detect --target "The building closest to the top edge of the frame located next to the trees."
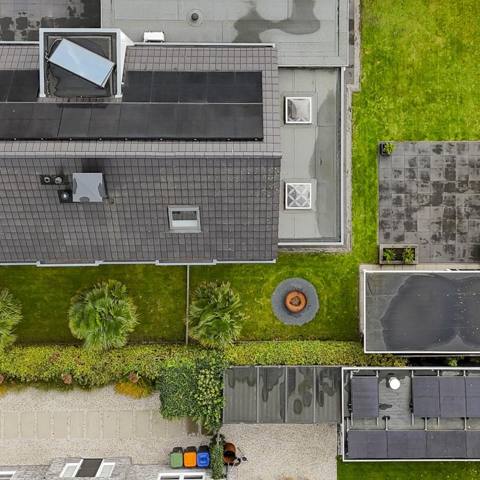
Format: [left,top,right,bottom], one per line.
[0,0,349,268]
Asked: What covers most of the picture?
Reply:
buildings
